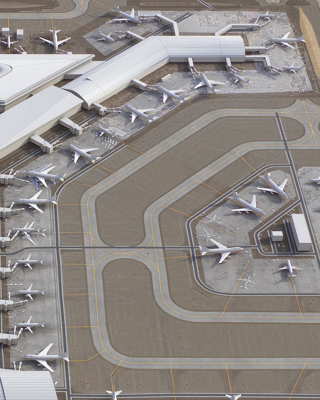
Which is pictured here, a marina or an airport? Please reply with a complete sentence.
The area seen from above is an airport.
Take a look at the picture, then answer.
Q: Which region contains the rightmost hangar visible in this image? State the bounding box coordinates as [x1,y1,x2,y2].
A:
[291,213,312,251]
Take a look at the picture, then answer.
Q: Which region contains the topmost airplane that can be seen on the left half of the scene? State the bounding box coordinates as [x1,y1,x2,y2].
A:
[110,2,141,24]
